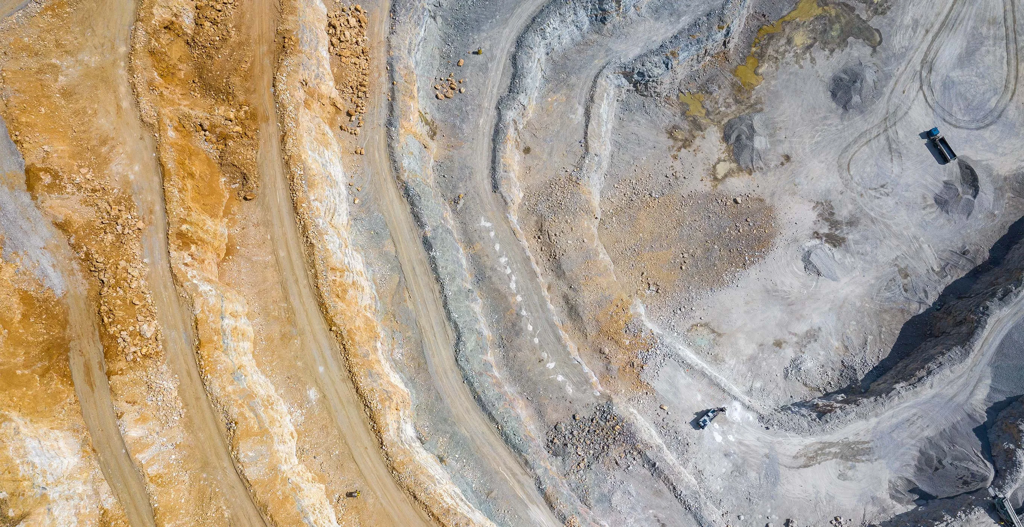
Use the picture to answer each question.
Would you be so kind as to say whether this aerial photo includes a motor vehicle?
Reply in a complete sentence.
Yes, you can see a motor vehicle in this photo.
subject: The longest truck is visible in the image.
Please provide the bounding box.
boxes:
[929,126,958,163]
